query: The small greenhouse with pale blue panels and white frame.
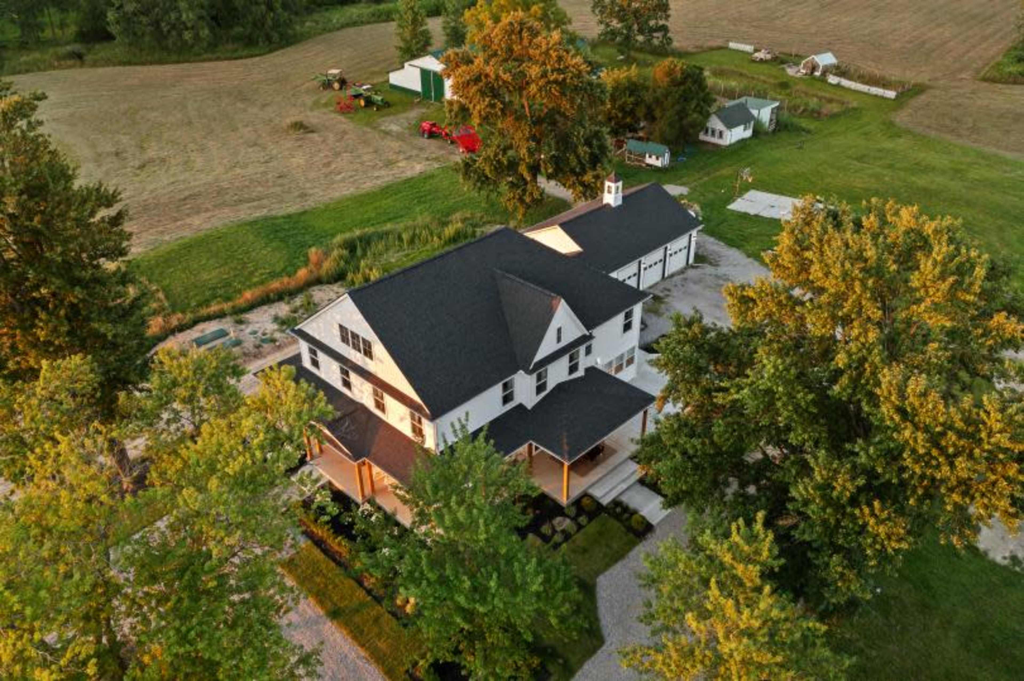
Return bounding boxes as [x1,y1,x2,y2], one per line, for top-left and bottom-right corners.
[800,49,837,75]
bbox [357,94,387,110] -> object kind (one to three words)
work vehicle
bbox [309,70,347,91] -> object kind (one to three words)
work vehicle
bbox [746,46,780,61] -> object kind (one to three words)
vehicle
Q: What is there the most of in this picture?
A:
trees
